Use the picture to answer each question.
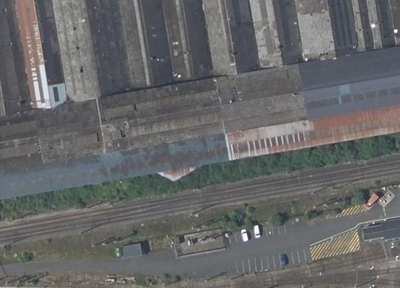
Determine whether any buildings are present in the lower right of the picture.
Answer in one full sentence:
Yes, I can see a building in the lower right of the picture.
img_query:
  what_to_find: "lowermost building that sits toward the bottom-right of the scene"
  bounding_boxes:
[362,218,400,240]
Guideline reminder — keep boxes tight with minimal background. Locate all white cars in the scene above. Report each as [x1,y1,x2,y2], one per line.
[242,229,248,241]
[254,225,260,237]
